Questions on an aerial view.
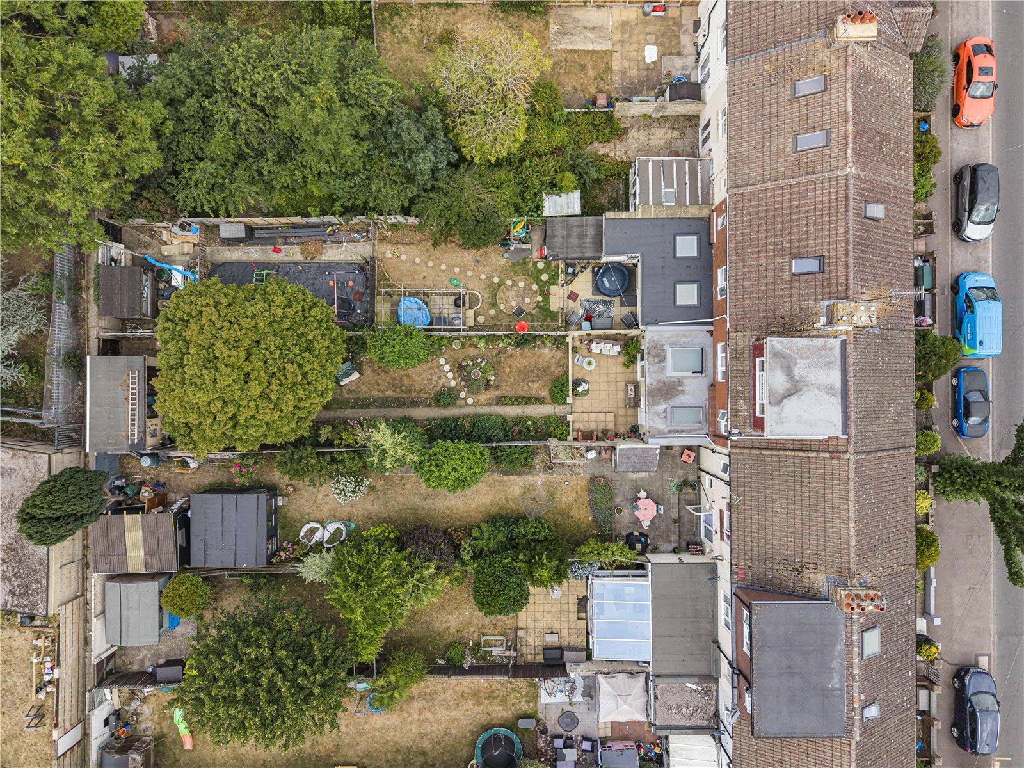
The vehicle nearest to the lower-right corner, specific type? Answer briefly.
automobile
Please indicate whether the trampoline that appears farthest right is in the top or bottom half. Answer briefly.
bottom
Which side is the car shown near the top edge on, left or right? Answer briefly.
right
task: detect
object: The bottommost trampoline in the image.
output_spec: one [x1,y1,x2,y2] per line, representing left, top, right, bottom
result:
[473,722,525,768]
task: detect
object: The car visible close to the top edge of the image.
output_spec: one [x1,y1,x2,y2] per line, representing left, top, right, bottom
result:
[951,36,1004,129]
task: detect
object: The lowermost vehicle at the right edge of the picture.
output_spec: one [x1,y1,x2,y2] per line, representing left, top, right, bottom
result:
[950,663,1005,757]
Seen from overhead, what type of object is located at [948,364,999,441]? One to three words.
car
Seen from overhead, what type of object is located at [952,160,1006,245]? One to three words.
car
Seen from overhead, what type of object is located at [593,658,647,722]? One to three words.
gazebo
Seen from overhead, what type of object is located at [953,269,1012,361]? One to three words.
van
